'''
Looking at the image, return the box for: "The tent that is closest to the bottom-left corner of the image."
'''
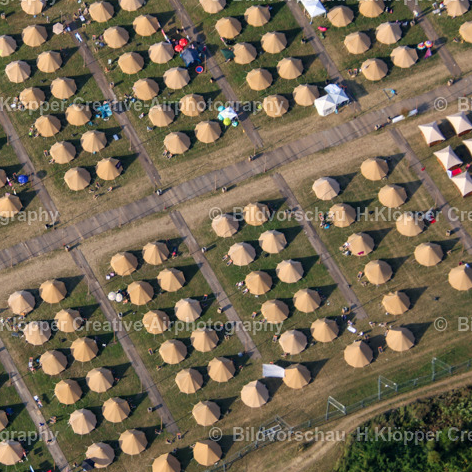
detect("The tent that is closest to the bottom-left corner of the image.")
[0,440,24,465]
